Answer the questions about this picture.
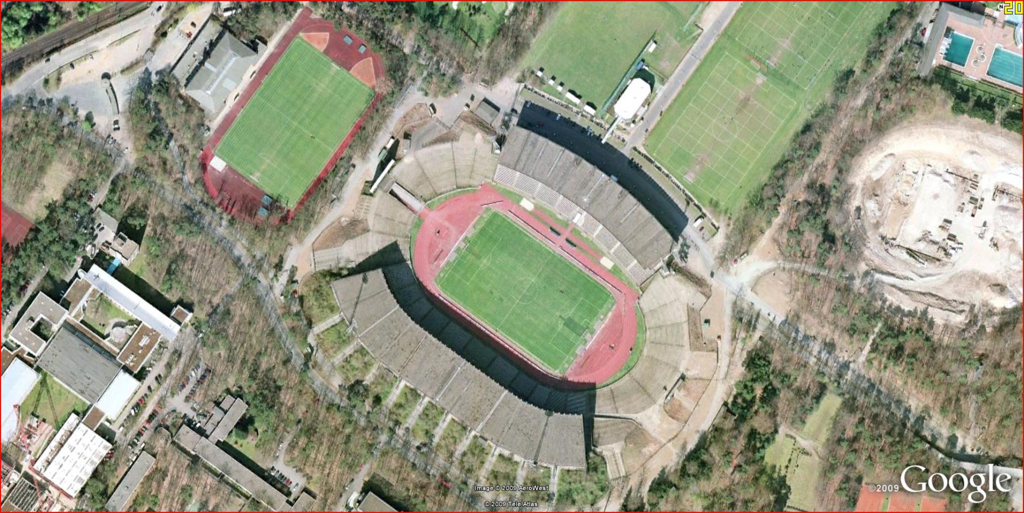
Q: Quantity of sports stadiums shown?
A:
1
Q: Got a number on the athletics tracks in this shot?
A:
two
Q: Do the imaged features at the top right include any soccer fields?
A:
Yes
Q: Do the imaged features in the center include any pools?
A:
No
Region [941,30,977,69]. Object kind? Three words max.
swimming pool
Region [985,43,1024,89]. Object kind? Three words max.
swimming pool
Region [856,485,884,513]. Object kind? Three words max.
tennis court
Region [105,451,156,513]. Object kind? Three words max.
building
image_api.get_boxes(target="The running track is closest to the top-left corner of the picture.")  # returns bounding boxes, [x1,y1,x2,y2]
[200,5,384,227]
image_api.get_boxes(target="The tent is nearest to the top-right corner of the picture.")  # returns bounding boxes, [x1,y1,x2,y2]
[613,78,652,121]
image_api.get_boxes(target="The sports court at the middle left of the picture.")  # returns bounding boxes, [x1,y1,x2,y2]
[0,206,34,252]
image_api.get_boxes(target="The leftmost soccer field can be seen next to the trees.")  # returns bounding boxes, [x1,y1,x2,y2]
[215,37,375,207]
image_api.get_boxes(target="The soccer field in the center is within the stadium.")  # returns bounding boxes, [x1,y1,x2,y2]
[432,203,618,377]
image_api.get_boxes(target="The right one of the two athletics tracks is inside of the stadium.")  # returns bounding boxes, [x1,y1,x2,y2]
[405,183,645,392]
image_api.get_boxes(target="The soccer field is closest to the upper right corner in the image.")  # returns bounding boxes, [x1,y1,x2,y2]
[737,0,866,88]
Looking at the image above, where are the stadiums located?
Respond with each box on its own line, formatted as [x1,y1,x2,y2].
[302,125,704,509]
